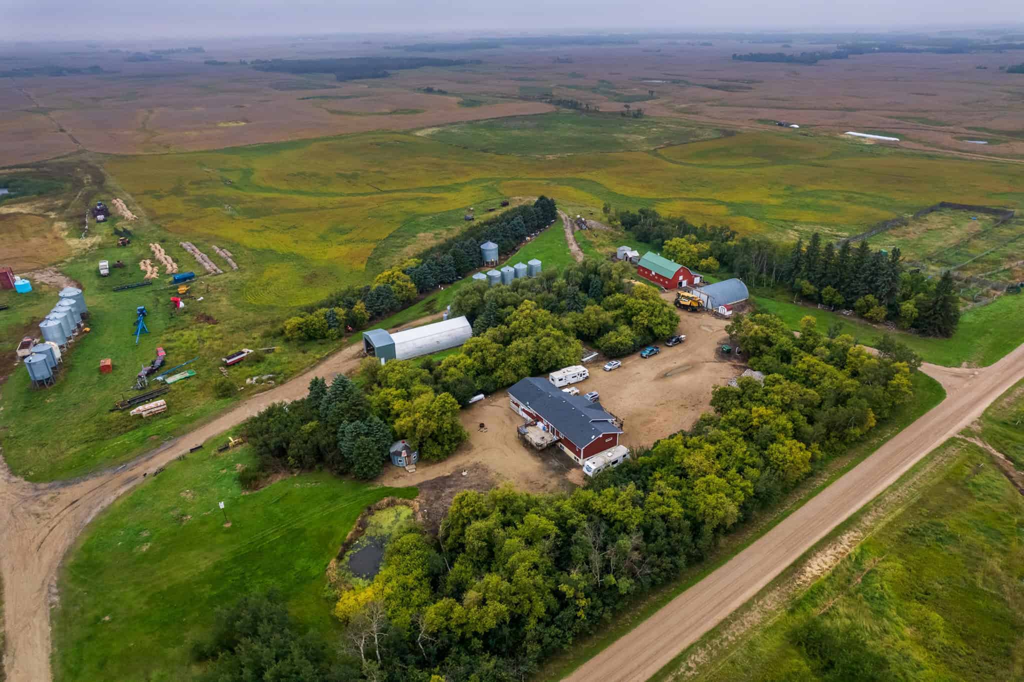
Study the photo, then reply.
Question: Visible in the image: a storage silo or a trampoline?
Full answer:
The image shows a storage silo.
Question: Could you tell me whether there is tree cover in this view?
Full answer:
Yes, tree cover can be seen from above here.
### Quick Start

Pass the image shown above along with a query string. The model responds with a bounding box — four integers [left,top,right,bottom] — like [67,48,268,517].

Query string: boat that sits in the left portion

[165,370,196,383]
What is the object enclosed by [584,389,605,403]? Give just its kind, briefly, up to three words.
car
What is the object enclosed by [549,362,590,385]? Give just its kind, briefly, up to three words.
camper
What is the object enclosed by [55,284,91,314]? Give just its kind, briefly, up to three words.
silo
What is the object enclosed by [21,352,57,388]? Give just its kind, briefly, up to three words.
silo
